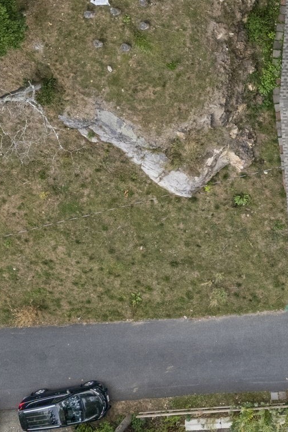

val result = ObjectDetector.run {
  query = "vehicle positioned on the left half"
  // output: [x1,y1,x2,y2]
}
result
[16,380,111,432]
